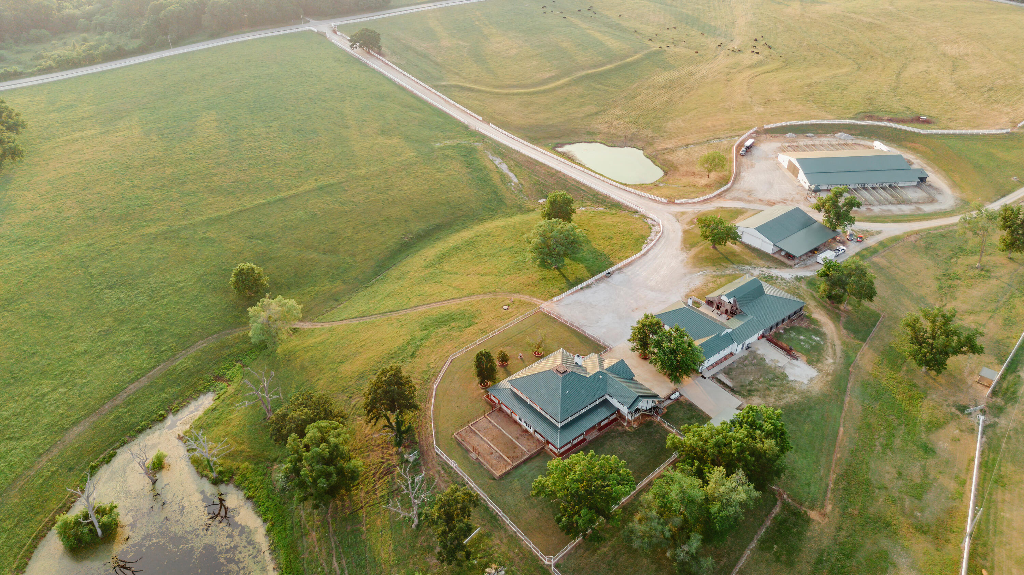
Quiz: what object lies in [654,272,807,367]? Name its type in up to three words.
house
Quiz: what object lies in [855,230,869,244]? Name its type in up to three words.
work vehicle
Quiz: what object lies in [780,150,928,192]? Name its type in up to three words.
barn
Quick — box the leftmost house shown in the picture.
[487,347,665,461]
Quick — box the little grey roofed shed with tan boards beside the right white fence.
[977,371,1000,390]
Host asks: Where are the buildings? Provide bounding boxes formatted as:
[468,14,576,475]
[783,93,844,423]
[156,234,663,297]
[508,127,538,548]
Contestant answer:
[654,272,807,367]
[780,150,928,192]
[735,205,839,268]
[487,347,665,461]
[977,371,1000,390]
